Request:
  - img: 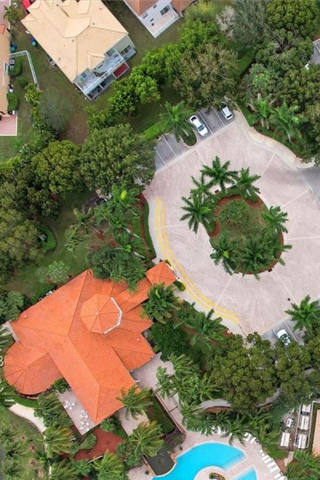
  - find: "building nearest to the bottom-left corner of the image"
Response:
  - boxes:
[3,261,182,424]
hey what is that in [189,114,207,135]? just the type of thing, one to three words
car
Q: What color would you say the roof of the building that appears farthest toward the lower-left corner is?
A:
orange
